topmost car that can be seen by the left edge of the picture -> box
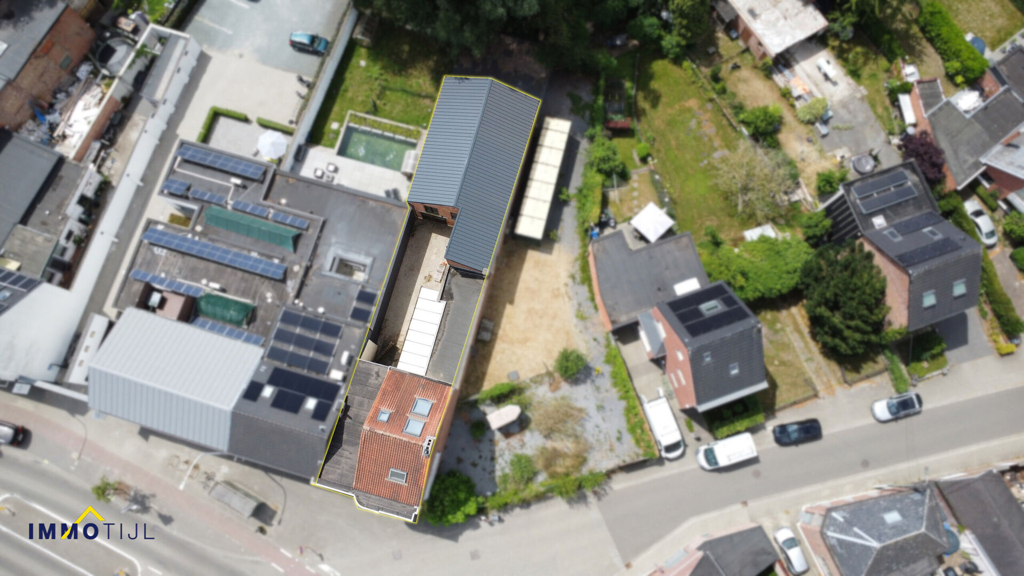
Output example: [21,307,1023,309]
[0,420,27,447]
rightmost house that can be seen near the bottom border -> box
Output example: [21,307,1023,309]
[905,467,1024,576]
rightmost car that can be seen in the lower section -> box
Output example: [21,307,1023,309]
[869,392,926,422]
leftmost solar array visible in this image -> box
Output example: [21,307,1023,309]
[0,269,38,289]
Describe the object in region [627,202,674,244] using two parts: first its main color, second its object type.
white gazebo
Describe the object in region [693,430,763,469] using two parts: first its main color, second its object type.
white van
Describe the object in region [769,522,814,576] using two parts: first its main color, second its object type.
white car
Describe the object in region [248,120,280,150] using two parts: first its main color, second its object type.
white umbrella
